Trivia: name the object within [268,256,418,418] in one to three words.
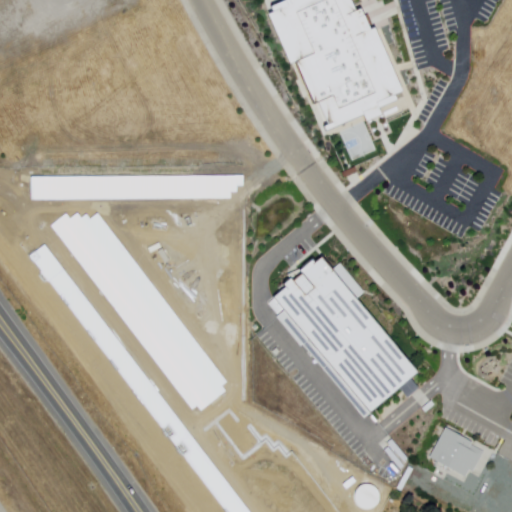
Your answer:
building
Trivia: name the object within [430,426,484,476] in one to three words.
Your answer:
building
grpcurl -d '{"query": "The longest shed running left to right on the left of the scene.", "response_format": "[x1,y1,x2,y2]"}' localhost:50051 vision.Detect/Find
[31,175,244,200]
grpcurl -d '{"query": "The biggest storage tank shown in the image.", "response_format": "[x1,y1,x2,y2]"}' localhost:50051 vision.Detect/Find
[352,481,382,511]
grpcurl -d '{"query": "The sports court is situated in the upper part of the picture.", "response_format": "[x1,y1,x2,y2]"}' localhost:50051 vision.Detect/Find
[340,121,376,161]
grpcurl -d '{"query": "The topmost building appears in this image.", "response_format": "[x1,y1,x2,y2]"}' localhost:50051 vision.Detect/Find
[268,0,402,130]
